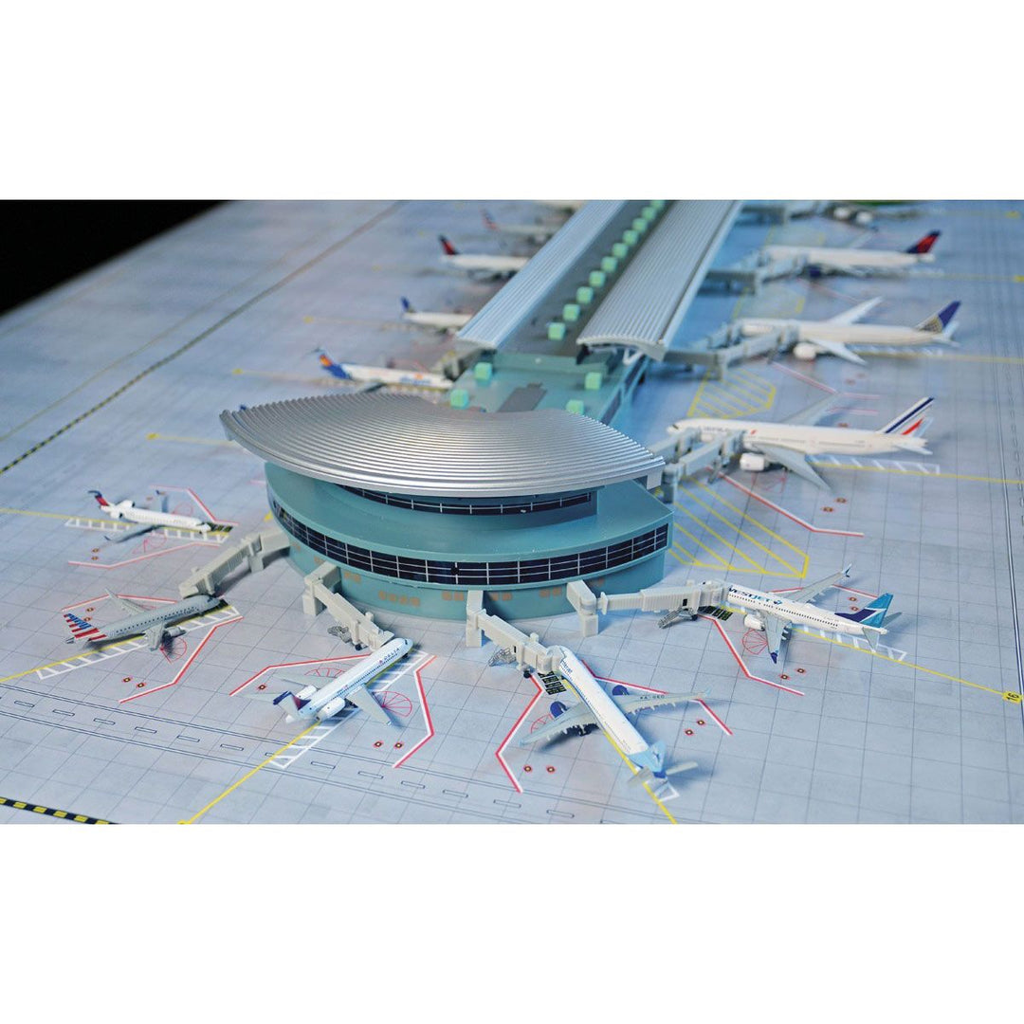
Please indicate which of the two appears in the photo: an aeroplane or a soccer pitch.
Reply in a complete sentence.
Of the two, only an aeroplane appears.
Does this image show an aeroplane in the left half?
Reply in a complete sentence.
Yes, an aeroplane appears in the left half.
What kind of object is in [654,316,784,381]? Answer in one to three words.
jet bridge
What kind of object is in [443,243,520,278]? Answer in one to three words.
airplane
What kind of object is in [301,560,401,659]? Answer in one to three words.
jet bridge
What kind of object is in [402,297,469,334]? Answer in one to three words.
airplane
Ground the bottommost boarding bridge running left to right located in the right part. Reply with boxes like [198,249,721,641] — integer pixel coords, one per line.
[565,579,735,639]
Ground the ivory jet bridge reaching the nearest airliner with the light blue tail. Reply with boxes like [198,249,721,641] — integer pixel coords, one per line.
[465,589,565,682]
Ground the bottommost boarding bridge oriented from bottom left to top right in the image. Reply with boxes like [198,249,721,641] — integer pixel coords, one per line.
[180,526,292,603]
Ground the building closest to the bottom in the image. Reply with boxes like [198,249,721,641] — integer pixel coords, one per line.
[219,391,676,618]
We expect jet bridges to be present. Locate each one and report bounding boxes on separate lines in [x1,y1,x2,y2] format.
[708,243,809,294]
[180,526,292,603]
[632,421,747,507]
[565,579,735,639]
[654,316,784,381]
[465,589,565,682]
[301,560,401,659]
[433,346,484,383]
